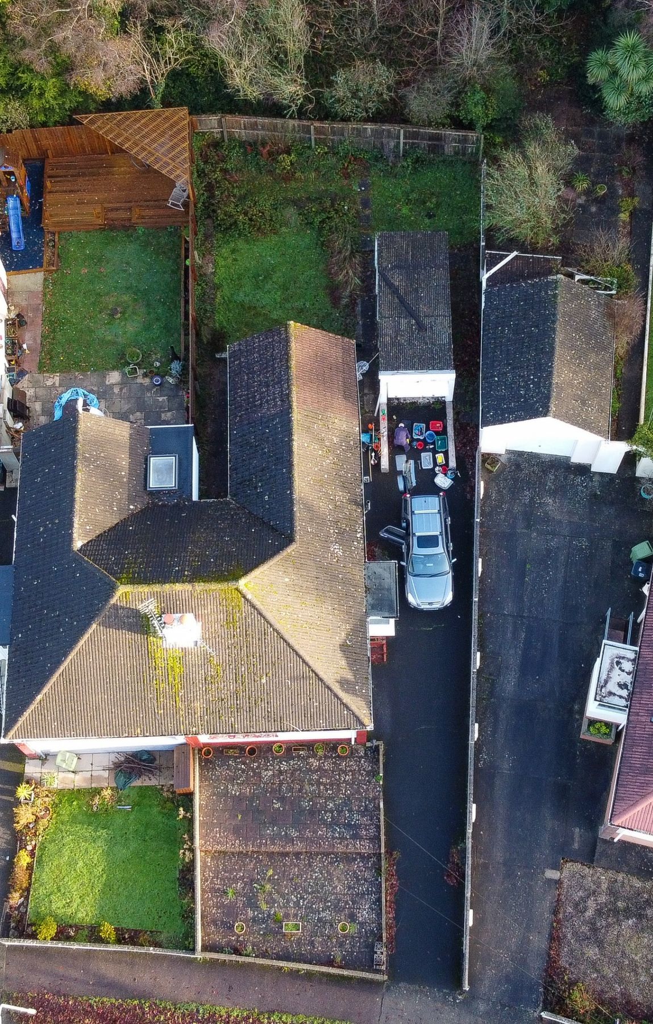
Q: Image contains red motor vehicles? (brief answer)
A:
No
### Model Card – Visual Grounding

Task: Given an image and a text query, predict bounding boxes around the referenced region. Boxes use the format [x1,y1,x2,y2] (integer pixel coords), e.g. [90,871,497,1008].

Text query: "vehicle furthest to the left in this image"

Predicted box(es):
[381,490,459,612]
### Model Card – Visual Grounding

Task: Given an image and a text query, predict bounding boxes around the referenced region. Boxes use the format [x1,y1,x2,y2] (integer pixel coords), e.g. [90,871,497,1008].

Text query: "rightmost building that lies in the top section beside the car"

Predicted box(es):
[477,275,618,464]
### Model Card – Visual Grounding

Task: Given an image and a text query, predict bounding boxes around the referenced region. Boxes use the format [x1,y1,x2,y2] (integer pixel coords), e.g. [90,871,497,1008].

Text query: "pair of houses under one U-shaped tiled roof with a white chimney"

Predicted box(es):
[0,320,400,755]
